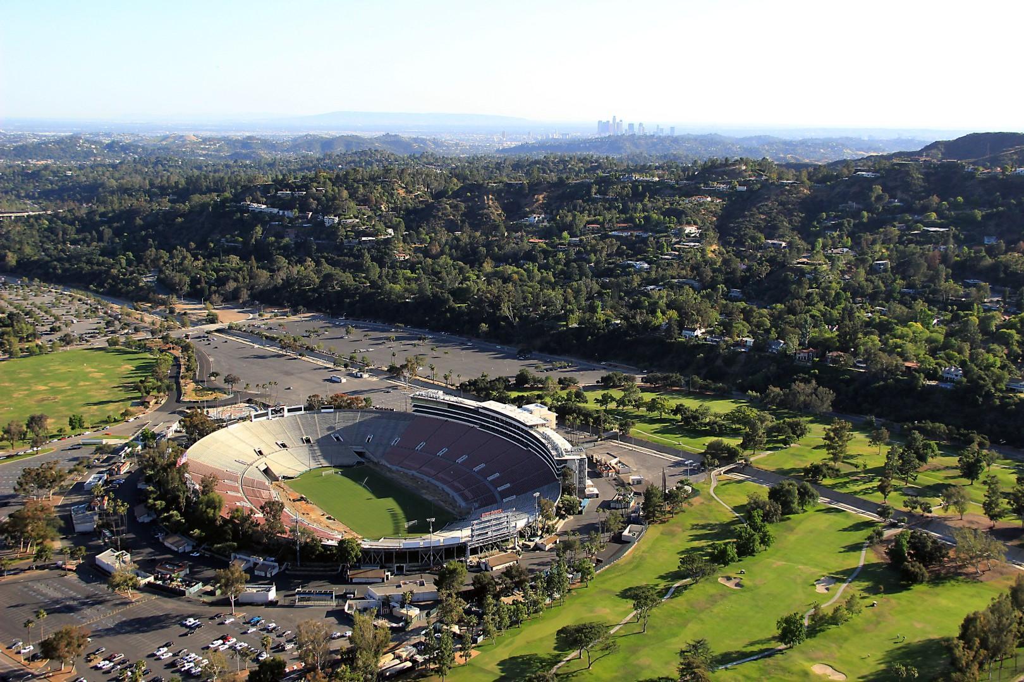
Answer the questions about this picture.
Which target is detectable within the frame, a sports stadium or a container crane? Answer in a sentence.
Looking from above, you can make out a sports stadium.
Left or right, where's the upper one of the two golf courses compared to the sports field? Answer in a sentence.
From the viewer's perspective, the upper one of the two golf courses falls to the right of the sports field.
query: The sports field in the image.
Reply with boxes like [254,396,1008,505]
[284,467,452,539]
